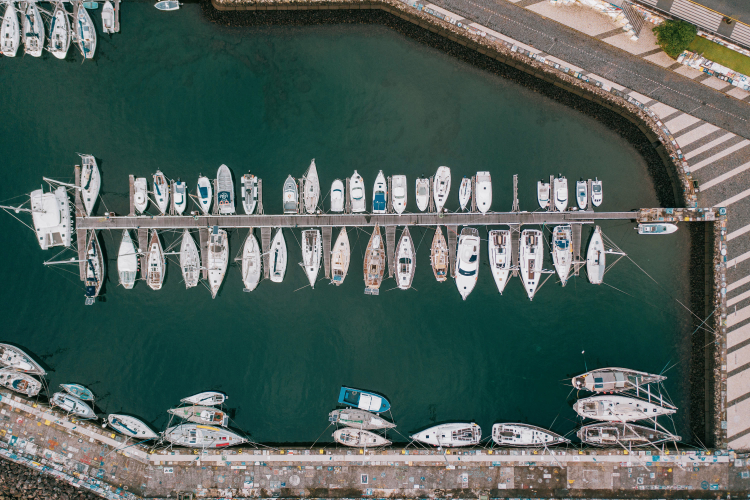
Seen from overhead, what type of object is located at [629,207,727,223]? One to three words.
pier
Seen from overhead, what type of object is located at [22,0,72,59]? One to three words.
boat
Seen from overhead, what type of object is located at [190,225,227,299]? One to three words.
boat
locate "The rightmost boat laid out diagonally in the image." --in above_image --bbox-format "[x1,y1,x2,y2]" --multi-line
[587,223,715,332]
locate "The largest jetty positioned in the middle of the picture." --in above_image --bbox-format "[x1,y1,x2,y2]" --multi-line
[76,212,595,229]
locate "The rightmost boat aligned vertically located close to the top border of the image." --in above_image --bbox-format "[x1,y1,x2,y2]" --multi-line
[101,1,116,36]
